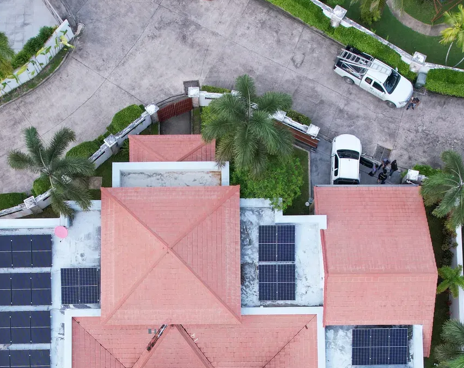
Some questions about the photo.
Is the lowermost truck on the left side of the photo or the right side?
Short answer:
right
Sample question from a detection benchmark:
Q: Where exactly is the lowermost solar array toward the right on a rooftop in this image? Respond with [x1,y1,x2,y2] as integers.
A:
[352,328,409,365]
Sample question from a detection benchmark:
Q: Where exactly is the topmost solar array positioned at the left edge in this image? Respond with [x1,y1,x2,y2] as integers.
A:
[0,234,53,267]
